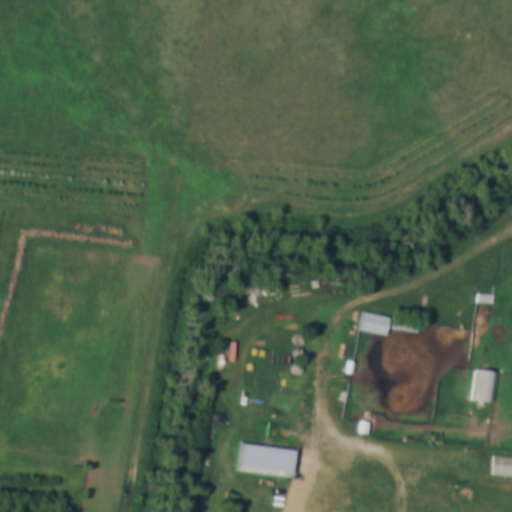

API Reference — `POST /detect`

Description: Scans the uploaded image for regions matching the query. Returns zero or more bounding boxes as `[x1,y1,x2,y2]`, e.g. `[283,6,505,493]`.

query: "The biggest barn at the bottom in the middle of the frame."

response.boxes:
[236,441,297,477]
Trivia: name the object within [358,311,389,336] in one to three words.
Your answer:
shed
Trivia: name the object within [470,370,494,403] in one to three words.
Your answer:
house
